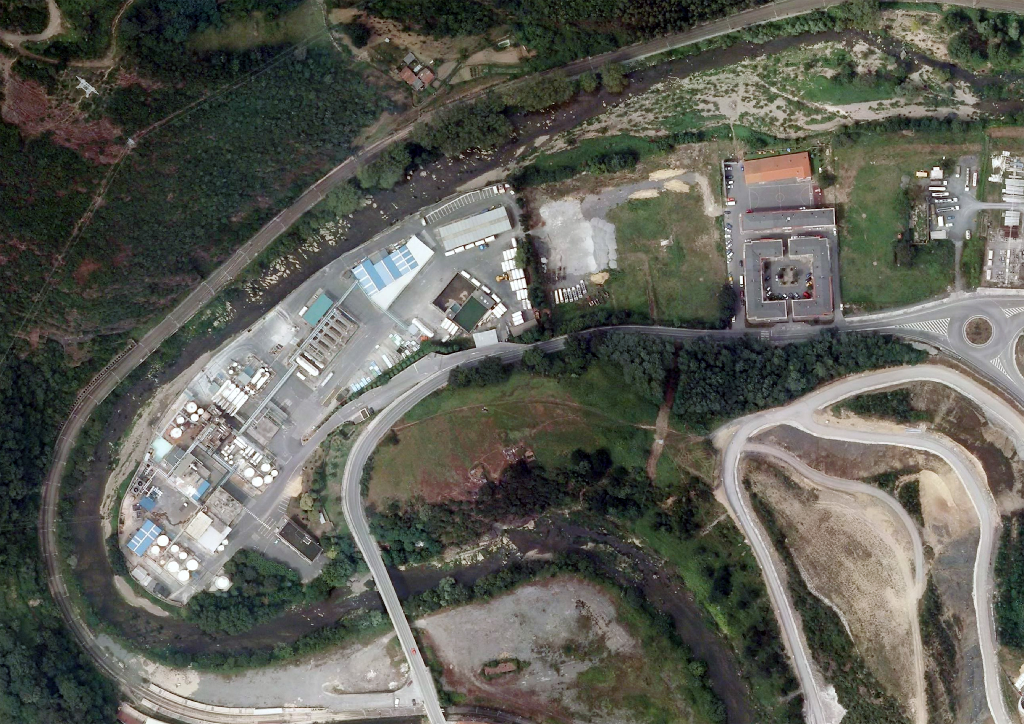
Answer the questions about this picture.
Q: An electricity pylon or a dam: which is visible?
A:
electricity pylon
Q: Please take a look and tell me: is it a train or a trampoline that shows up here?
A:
train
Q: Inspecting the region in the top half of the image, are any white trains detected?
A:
No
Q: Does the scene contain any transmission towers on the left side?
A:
Yes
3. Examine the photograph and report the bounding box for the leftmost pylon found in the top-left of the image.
[69,75,94,100]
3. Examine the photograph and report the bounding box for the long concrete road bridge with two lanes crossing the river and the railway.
[355,525,449,724]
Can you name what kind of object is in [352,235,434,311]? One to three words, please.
building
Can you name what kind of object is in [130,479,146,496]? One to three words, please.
cooling tower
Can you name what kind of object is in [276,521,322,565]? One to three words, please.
building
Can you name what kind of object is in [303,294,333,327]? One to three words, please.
shed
